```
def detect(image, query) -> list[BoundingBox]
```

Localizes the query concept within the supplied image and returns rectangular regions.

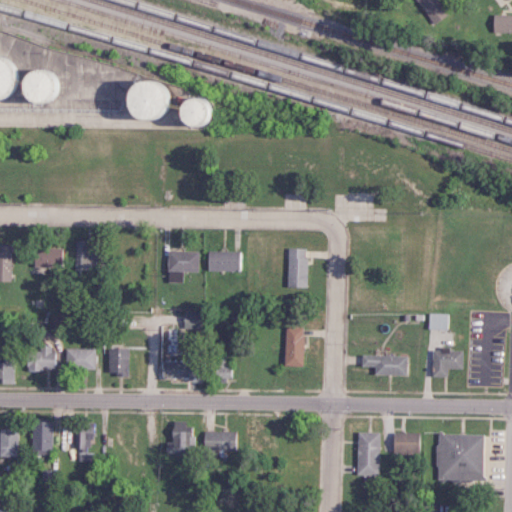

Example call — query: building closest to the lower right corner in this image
[437,434,484,482]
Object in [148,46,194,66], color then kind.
white rail car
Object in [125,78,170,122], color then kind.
white storage tank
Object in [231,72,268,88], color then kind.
white rail car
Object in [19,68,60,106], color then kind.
white storage tank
